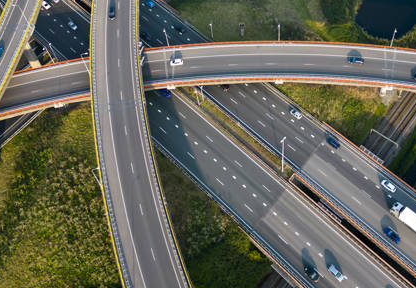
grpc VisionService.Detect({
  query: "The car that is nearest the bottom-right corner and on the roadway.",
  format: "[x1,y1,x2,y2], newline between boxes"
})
[382,227,400,243]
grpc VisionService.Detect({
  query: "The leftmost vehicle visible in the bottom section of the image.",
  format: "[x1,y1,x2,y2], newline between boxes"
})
[302,265,319,281]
